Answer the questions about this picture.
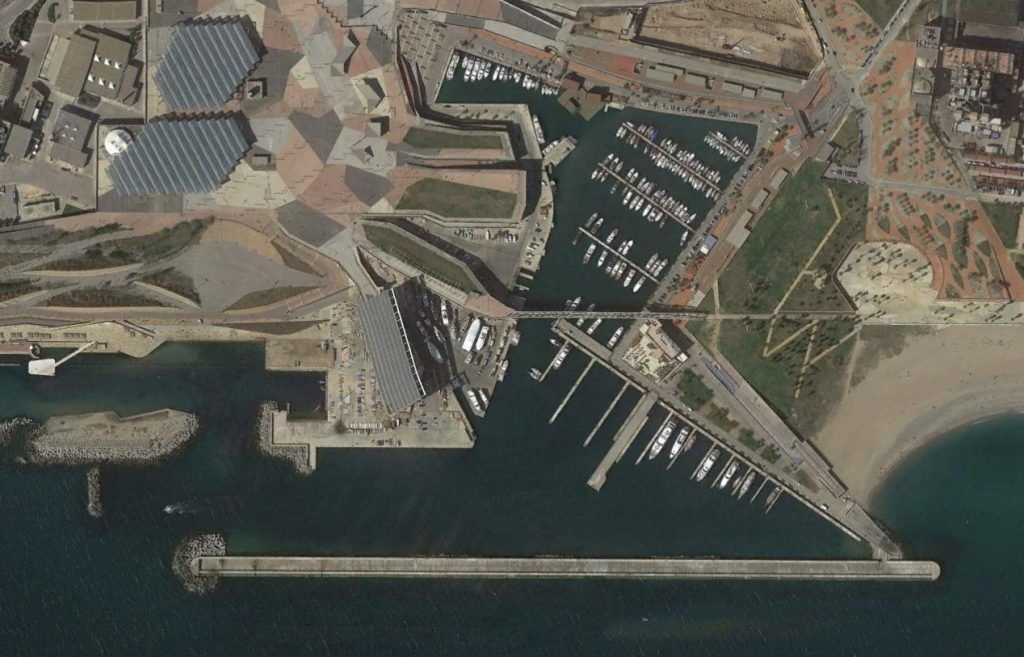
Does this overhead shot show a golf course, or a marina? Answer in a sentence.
The area seen from above is a marina.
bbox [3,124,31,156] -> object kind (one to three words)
building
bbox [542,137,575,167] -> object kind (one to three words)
pier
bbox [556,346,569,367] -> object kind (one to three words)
boat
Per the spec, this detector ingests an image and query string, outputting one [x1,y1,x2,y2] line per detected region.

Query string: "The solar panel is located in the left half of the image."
[359,289,420,413]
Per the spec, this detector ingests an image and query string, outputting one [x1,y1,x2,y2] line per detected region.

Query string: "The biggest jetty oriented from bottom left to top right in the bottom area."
[587,395,658,491]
